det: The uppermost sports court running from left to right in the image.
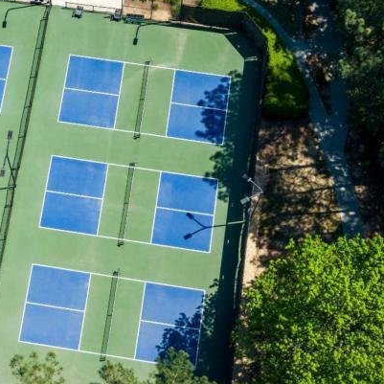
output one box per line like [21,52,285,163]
[60,55,231,145]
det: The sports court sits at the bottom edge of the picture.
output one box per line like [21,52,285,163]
[19,264,204,368]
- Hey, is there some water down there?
No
